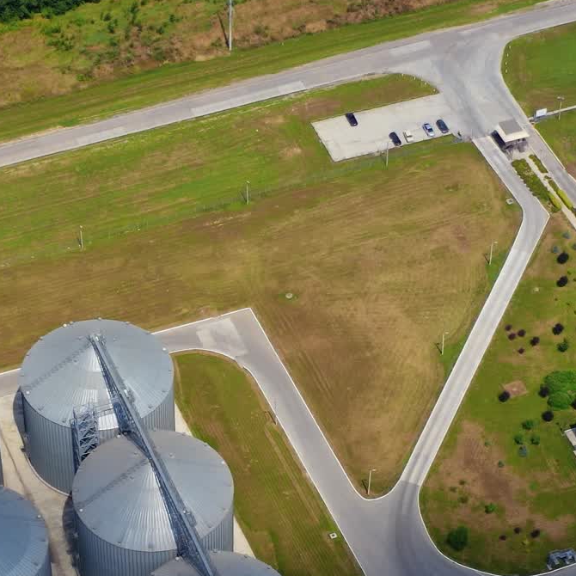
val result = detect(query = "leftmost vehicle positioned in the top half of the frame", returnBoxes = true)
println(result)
[346,111,359,126]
